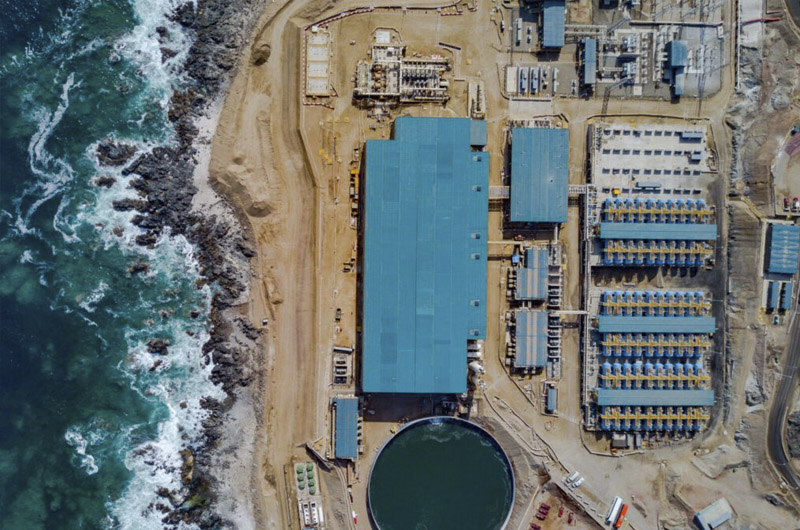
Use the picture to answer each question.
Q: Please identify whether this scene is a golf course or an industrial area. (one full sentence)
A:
It's an industrial area.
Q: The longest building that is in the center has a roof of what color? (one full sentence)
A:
The roof over the longest building that is in the center appears blue.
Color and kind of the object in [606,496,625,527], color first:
white vehicle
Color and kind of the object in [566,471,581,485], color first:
white vehicle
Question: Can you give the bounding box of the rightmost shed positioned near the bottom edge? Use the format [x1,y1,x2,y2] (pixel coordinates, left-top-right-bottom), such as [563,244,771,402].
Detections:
[691,496,733,530]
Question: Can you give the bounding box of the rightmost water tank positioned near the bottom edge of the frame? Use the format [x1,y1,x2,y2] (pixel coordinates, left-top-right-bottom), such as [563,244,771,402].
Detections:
[368,405,515,530]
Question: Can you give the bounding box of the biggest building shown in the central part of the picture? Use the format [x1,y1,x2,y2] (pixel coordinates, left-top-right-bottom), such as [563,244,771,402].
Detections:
[363,116,489,393]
